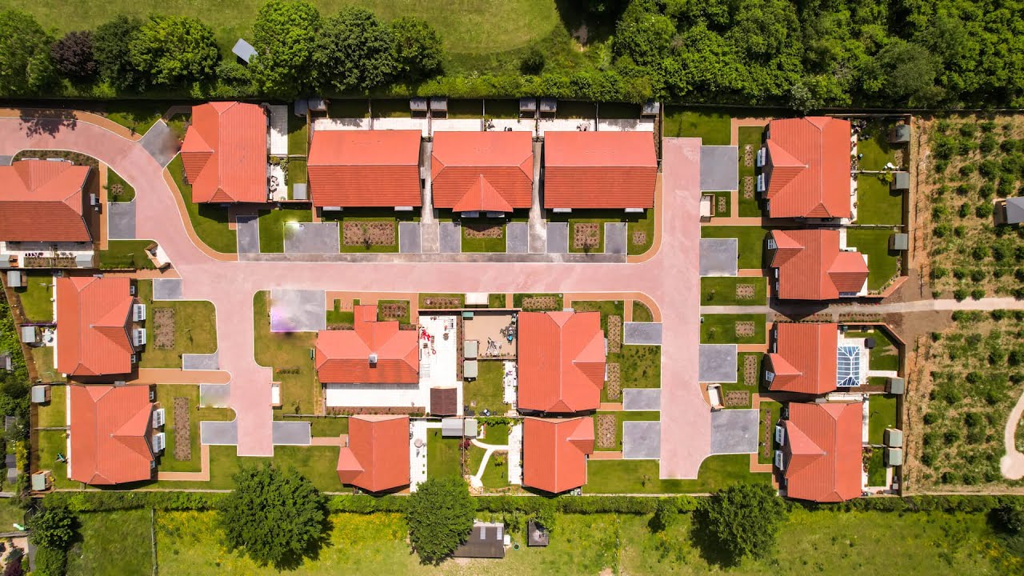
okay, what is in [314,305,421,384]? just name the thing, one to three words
house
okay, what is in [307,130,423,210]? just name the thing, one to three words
house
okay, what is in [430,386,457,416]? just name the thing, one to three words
building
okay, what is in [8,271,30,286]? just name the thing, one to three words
shed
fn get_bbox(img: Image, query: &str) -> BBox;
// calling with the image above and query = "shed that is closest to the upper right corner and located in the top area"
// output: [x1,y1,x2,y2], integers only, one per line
[889,126,912,144]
